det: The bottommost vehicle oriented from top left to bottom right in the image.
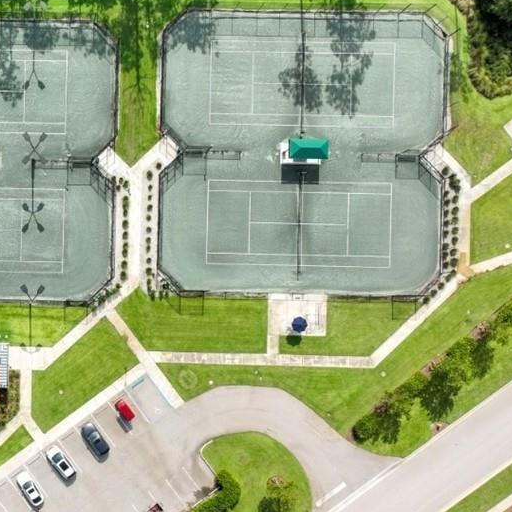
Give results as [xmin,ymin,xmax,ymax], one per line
[16,469,47,509]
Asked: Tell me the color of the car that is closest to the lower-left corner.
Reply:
white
